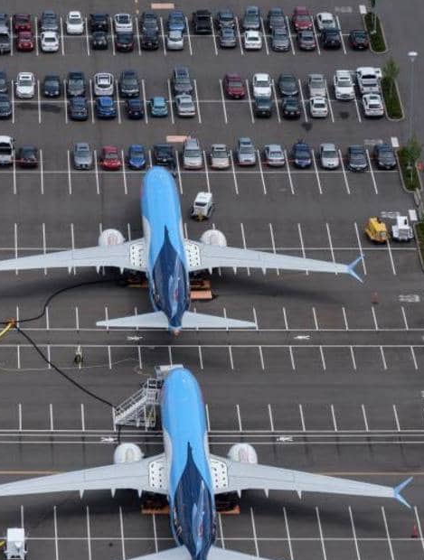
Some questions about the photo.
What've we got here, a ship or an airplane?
airplane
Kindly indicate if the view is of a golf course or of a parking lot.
parking lot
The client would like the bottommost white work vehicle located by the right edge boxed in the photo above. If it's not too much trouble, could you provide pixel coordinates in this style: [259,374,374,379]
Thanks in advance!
[389,214,413,242]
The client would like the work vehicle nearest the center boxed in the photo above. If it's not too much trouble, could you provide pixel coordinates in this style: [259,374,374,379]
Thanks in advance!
[190,191,214,222]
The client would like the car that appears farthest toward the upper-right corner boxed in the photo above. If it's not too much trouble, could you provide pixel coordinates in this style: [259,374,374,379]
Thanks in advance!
[348,25,370,51]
